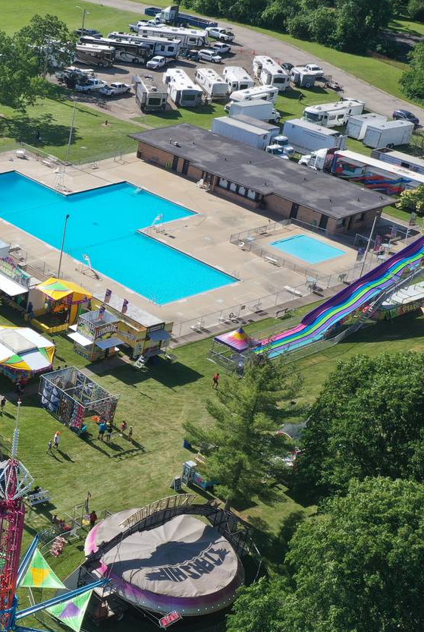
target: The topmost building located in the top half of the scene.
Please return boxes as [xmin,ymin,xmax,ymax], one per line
[128,123,400,238]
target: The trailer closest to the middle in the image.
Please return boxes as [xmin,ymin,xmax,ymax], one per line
[75,281,172,368]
